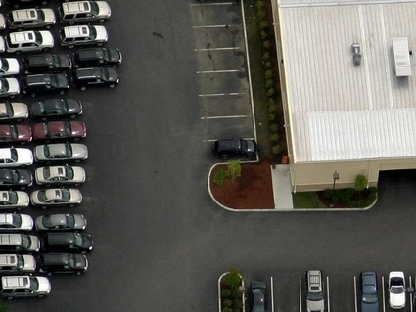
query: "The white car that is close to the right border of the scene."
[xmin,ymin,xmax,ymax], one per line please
[386,270,408,310]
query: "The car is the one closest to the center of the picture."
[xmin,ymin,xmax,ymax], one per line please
[209,139,258,162]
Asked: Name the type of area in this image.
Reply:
parking lot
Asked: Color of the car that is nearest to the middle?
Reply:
black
